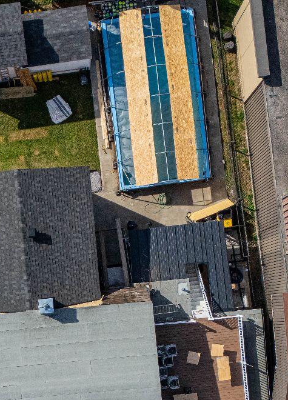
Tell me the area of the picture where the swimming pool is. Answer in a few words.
top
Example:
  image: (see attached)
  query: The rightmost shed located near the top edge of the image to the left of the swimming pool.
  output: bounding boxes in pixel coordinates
[22,6,92,76]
